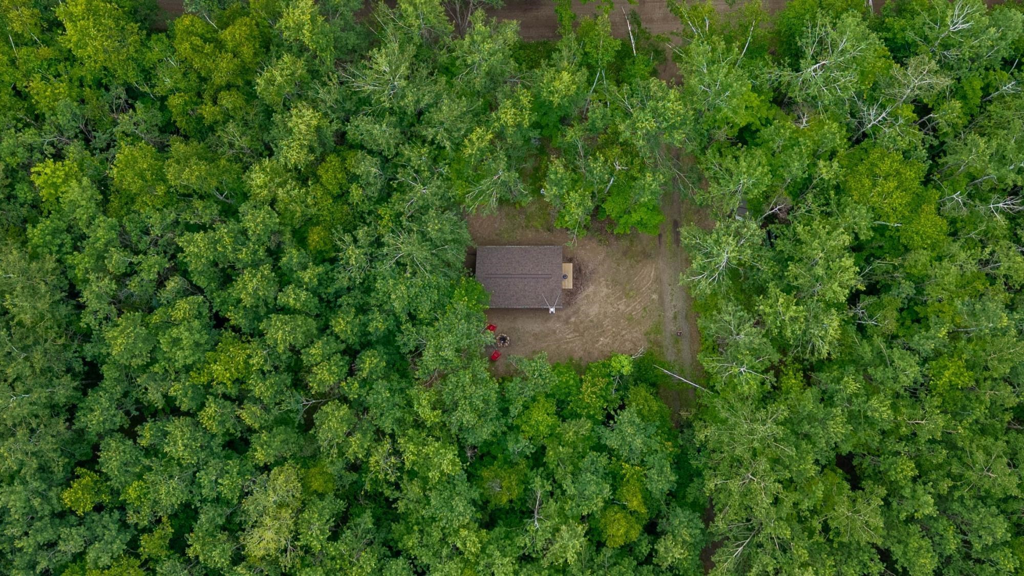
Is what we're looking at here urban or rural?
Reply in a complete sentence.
The land in this view is best described as rural.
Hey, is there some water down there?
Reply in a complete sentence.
No, there is no water in the image.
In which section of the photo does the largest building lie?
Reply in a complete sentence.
Look in the center portion of the view to spot the largest building.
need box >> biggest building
[476,245,563,308]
